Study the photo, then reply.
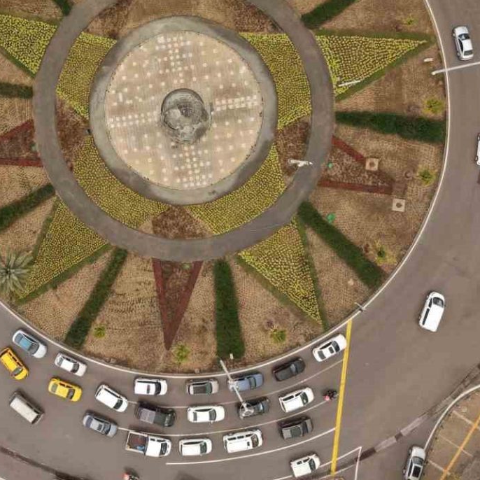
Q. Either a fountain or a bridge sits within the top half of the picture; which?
fountain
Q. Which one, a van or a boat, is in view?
van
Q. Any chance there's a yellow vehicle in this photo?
Yes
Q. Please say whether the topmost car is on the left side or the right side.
right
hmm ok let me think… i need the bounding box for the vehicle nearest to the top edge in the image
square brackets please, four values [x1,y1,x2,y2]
[453,27,473,60]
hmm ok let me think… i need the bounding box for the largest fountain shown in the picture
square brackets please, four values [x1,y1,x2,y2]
[89,16,278,205]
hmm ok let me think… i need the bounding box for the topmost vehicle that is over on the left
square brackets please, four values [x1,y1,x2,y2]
[11,328,48,359]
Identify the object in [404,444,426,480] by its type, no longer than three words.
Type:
car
